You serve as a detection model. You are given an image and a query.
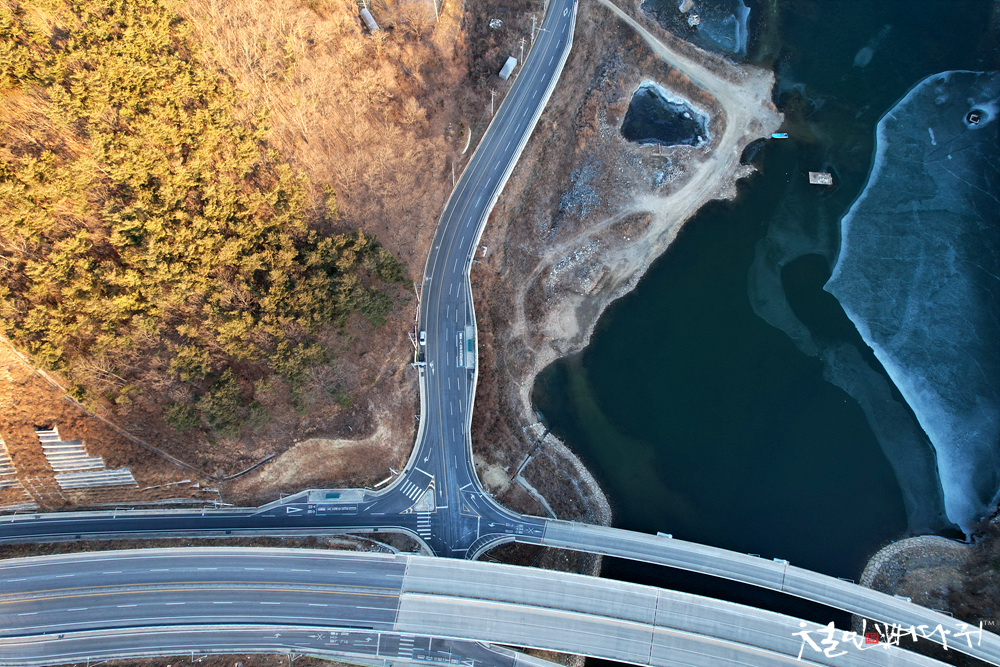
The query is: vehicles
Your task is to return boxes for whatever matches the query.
[419,349,425,362]
[419,332,426,345]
